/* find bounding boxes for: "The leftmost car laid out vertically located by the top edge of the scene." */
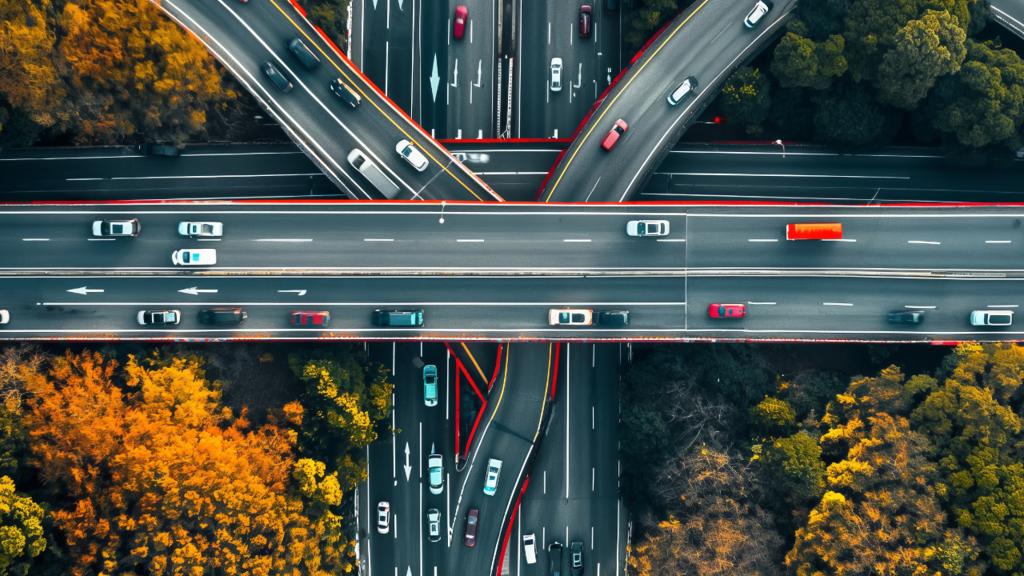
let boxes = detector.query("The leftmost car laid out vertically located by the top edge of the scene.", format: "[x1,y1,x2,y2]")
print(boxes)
[452,4,467,39]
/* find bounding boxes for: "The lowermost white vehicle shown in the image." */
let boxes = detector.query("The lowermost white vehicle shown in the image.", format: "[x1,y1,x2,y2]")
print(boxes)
[522,534,537,567]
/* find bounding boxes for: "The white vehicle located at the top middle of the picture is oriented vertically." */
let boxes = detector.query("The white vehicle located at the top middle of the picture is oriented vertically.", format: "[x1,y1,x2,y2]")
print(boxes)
[549,56,564,91]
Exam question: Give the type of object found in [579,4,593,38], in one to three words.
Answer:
car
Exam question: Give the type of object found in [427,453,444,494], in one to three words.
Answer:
car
